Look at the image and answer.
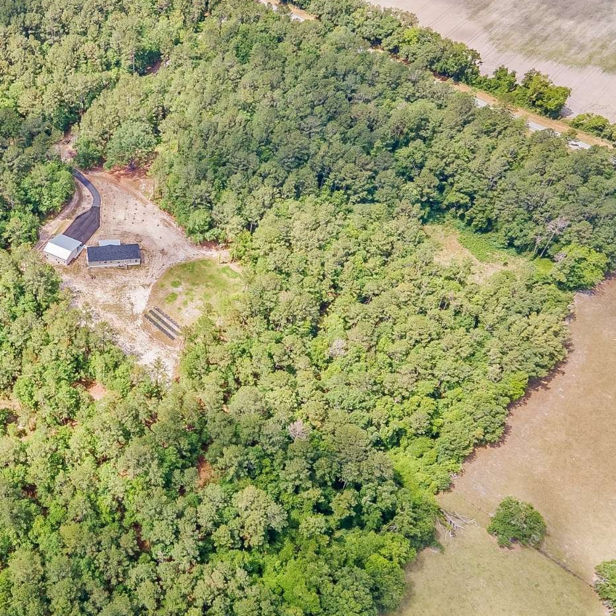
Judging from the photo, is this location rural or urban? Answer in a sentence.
It looks rural.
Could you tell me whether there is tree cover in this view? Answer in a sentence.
Yes, tree cover shows up in the scene.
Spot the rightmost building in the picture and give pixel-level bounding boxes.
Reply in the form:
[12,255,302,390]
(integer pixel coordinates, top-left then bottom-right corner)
[87,237,142,270]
